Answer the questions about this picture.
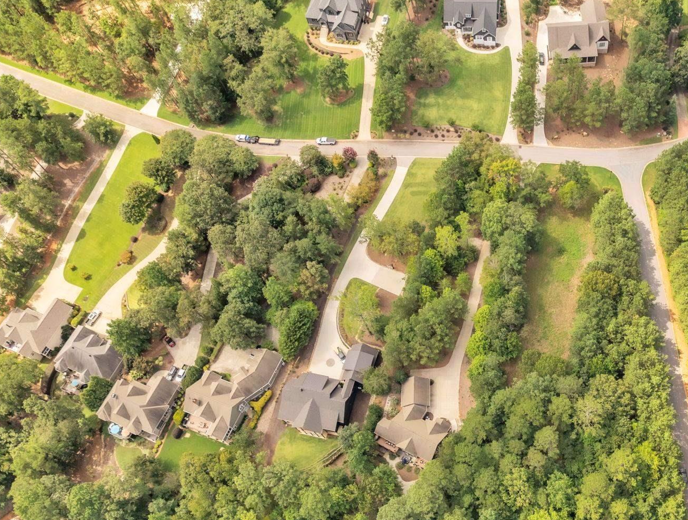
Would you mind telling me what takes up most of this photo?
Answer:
trees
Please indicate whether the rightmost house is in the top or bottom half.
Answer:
top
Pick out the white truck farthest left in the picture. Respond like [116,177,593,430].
[82,307,103,328]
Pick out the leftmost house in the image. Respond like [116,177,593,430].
[0,298,76,365]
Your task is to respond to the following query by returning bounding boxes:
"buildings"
[374,376,451,467]
[546,0,610,66]
[97,376,184,445]
[54,326,127,397]
[306,0,374,41]
[277,344,380,436]
[0,298,76,365]
[183,349,285,443]
[443,0,501,45]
